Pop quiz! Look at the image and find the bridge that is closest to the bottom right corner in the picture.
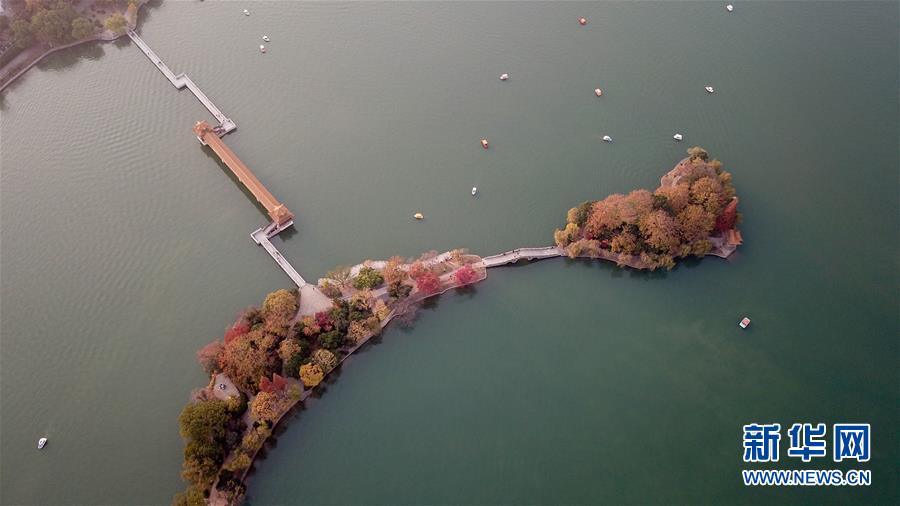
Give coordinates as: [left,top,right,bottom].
[483,245,562,268]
